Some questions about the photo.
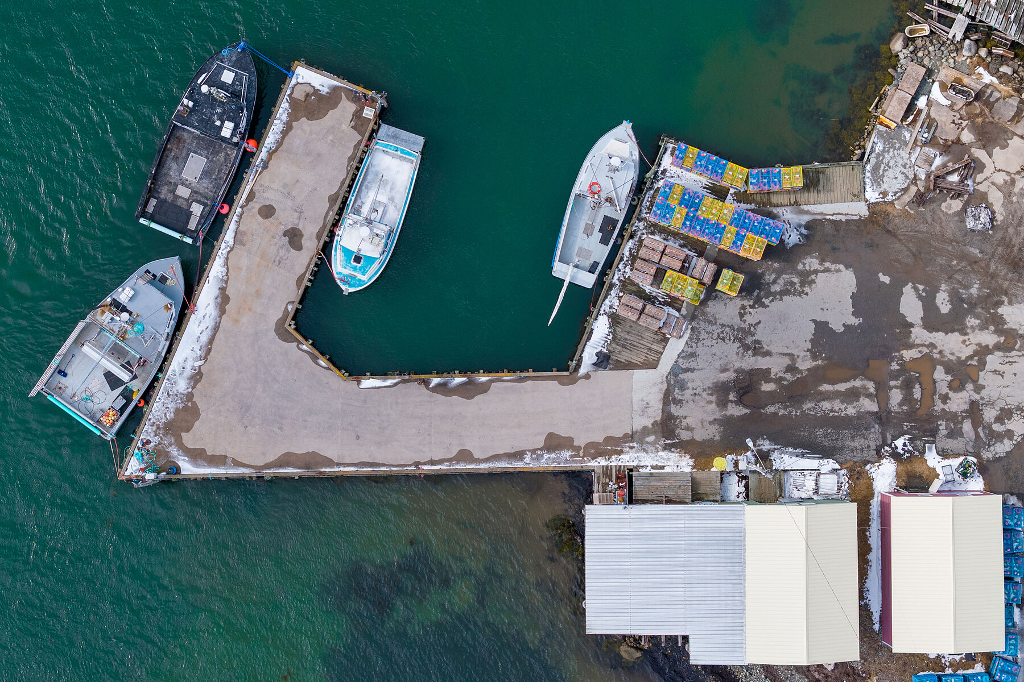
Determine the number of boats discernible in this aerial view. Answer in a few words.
four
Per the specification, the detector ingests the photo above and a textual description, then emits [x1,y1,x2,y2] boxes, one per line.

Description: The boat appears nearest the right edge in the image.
[547,119,640,326]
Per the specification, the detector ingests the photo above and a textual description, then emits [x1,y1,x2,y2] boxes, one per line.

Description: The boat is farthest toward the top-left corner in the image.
[136,39,258,246]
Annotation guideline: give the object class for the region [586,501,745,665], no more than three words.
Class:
shed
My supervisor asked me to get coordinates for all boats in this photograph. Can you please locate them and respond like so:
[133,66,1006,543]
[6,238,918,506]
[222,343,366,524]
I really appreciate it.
[547,119,640,326]
[136,39,258,246]
[28,255,185,440]
[331,123,426,295]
